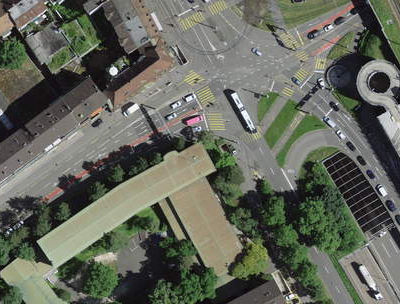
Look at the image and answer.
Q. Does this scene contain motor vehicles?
Yes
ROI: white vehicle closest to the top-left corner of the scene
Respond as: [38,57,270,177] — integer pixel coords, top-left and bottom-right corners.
[122,104,138,116]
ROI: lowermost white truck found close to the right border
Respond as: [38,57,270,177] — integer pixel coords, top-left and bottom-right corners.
[359,266,382,299]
